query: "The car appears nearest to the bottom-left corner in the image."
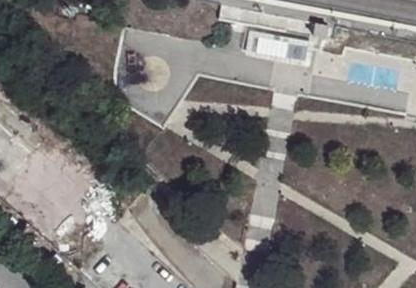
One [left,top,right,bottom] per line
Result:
[92,254,111,275]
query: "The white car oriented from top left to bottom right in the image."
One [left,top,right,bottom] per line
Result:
[152,262,174,282]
